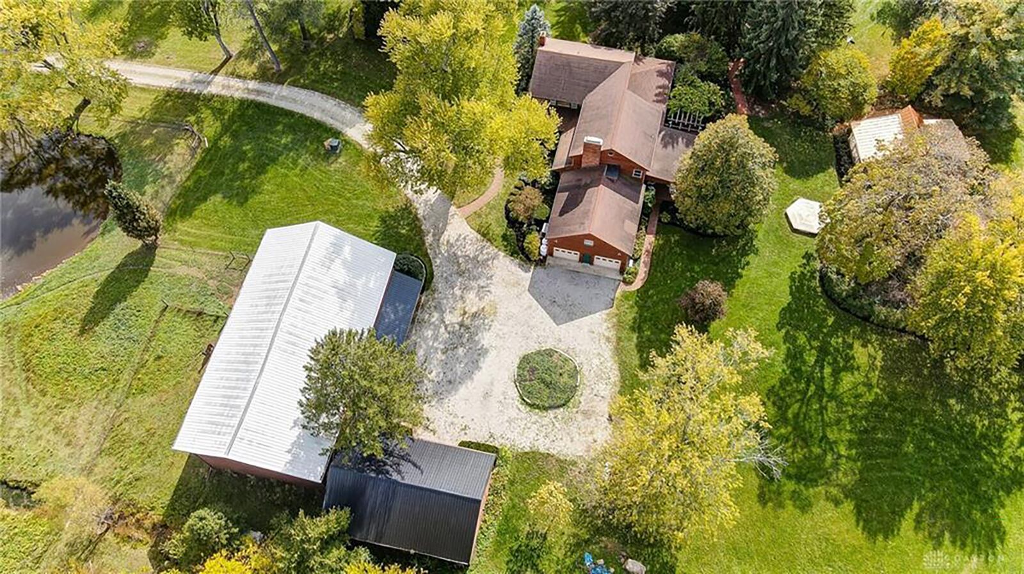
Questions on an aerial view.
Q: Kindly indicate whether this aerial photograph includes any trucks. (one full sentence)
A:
No, I find no truck anywhere in the image.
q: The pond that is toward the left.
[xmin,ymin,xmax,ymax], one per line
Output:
[0,130,129,312]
